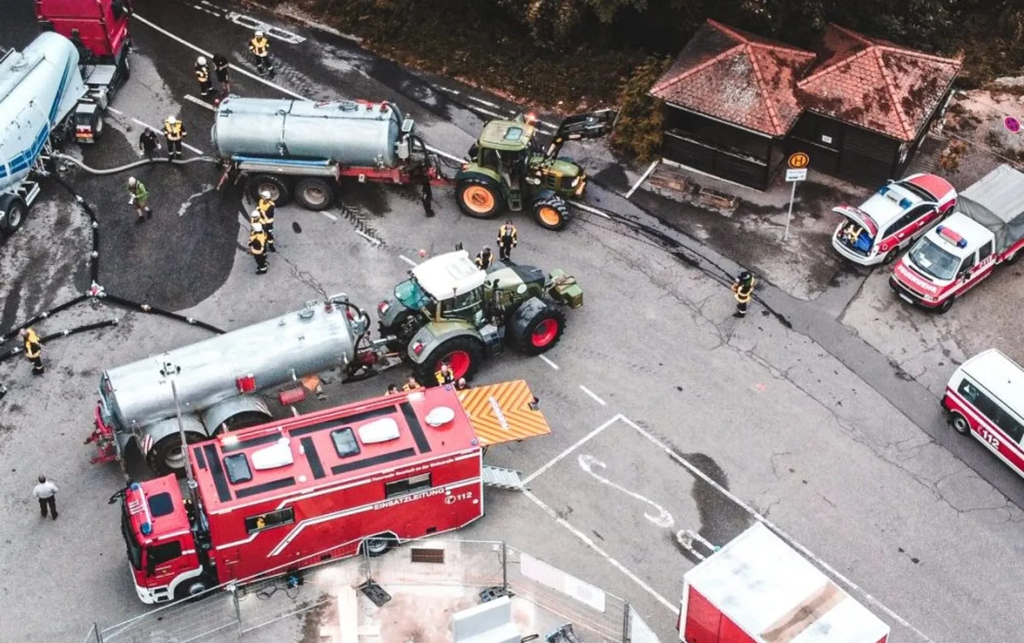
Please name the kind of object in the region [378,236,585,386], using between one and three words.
work vehicle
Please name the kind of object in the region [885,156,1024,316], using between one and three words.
truck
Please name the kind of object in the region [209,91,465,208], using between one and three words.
trailer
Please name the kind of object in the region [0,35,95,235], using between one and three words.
trailer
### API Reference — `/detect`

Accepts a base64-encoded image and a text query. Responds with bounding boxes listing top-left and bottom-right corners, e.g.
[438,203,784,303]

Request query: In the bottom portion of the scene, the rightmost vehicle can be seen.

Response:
[940,345,1024,478]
